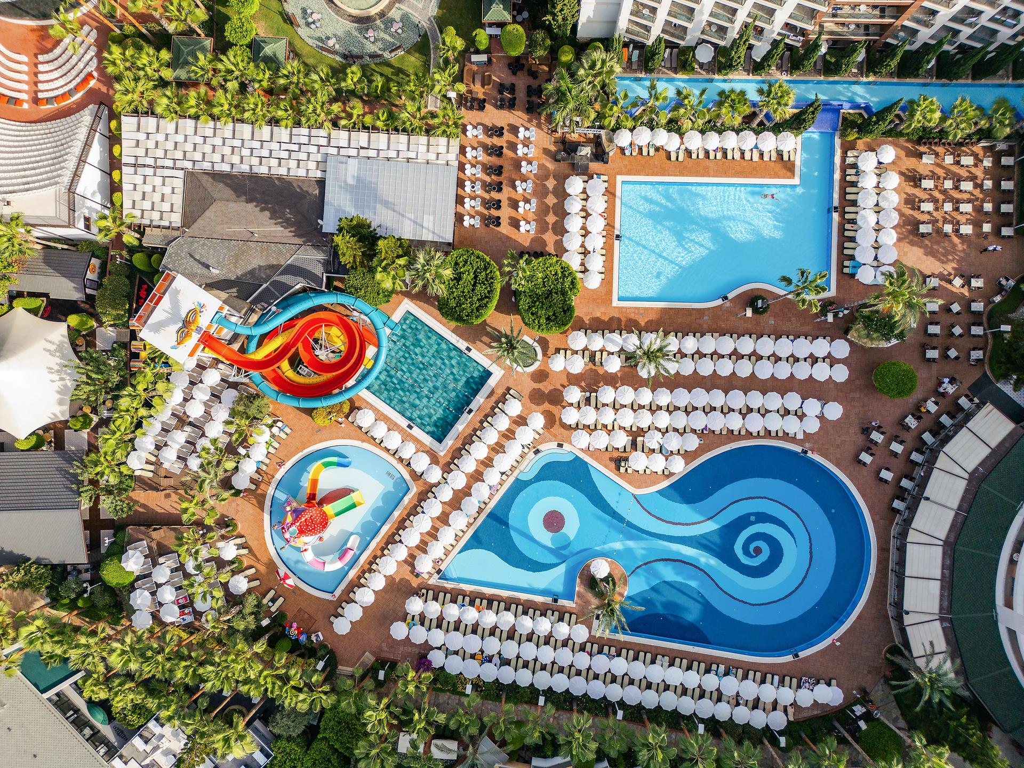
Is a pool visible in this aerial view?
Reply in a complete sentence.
Yes, a pool can be made out from above.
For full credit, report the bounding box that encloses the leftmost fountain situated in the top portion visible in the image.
[318,0,401,34]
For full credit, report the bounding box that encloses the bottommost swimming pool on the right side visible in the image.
[428,439,877,663]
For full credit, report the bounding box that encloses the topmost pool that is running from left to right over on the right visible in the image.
[614,76,1024,134]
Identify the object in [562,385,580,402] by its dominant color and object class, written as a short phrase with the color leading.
white umbrella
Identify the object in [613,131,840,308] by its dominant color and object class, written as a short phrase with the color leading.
blue swimming pool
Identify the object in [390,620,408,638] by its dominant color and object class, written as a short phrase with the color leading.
white umbrella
